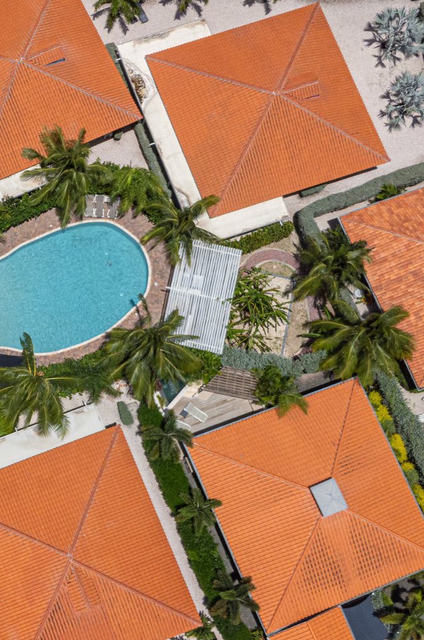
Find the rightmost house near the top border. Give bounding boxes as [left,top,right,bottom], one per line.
[117,0,392,247]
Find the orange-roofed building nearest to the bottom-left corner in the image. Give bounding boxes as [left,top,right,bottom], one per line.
[0,403,204,640]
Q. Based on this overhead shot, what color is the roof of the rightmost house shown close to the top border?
orange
